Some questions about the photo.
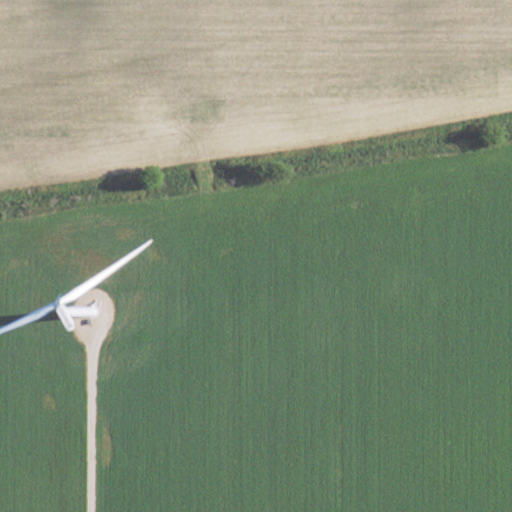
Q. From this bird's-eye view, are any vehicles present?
No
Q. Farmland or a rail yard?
farmland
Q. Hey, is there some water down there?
No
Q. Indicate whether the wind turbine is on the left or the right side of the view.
left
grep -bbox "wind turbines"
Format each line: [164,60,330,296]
[0,240,153,334]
